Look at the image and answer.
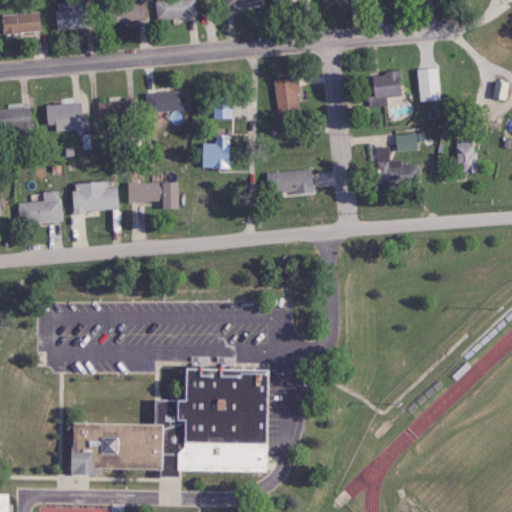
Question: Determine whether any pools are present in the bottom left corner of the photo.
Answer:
No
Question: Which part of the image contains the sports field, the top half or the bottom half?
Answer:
bottom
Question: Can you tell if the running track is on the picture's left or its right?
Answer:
right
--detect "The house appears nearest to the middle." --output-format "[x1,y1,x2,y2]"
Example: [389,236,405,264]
[268,169,316,199]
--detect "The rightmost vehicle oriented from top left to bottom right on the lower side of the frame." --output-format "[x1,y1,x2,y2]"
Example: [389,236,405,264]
[115,360,129,376]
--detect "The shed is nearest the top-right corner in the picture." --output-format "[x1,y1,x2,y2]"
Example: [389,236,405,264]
[494,78,510,102]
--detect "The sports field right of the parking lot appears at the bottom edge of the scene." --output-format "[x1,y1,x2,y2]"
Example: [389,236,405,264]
[382,352,512,512]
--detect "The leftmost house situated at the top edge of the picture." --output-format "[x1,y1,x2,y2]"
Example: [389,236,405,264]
[2,13,42,38]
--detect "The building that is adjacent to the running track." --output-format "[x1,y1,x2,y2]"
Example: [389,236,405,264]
[72,366,270,476]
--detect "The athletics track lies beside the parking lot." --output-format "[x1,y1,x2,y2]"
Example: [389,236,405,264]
[345,330,512,512]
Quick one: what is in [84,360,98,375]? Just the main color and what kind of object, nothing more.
white vehicle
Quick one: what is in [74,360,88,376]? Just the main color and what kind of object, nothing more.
white vehicle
